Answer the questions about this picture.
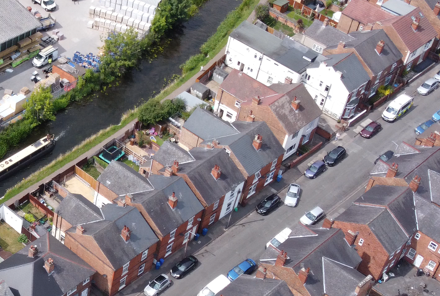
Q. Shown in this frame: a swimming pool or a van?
van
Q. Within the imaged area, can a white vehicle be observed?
Yes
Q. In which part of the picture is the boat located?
left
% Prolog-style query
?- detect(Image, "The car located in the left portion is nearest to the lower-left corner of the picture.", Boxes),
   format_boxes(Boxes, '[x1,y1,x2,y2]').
[143,274,173,296]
